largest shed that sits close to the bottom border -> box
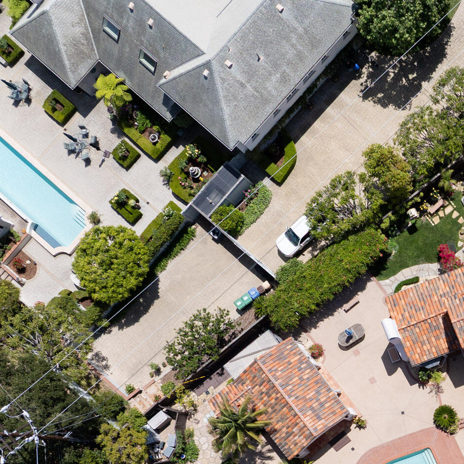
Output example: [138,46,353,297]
[207,337,364,459]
